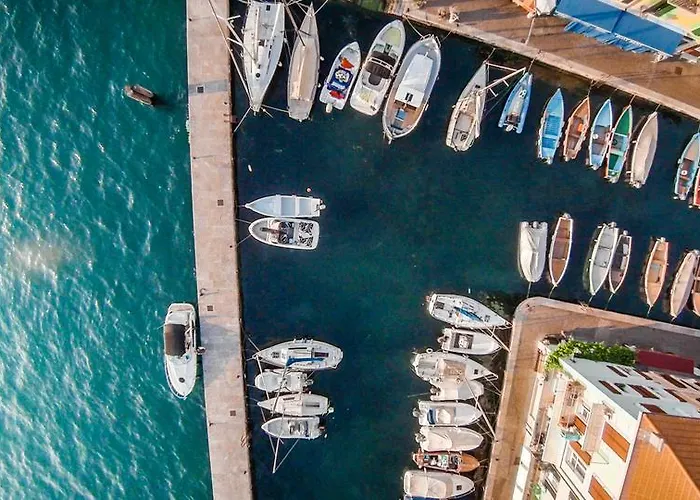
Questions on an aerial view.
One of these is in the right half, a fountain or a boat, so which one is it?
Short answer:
boat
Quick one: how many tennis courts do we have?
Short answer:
0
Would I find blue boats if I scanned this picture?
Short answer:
Yes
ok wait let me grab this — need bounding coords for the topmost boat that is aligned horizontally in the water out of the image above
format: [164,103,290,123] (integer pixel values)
[239,194,324,220]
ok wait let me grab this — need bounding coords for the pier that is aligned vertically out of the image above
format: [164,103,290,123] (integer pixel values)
[186,0,257,500]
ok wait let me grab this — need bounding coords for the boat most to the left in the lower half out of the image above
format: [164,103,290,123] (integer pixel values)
[136,294,206,404]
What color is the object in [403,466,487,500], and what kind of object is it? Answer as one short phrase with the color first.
white boat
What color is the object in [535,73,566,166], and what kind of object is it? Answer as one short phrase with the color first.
blue boat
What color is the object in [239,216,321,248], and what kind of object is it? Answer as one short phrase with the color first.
white boat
